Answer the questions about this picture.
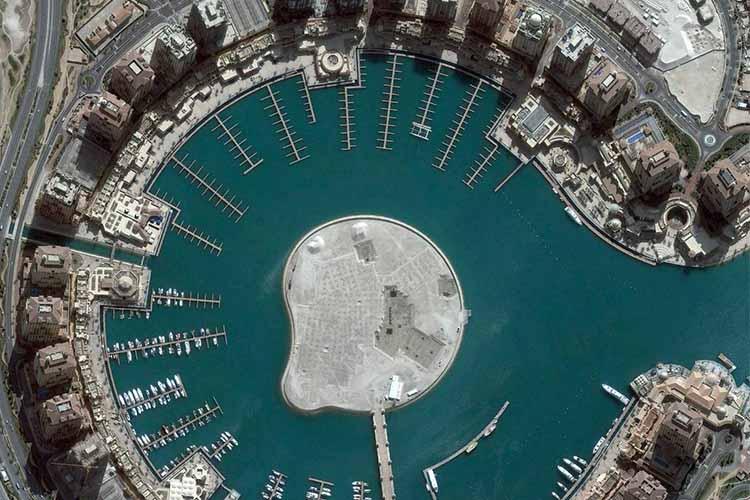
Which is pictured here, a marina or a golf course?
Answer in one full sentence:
This looks like a marina.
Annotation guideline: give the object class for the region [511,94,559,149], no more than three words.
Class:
building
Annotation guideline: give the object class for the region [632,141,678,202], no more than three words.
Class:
building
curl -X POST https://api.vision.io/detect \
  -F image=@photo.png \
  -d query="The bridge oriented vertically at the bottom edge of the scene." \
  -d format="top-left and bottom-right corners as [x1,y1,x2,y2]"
[372,407,396,500]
